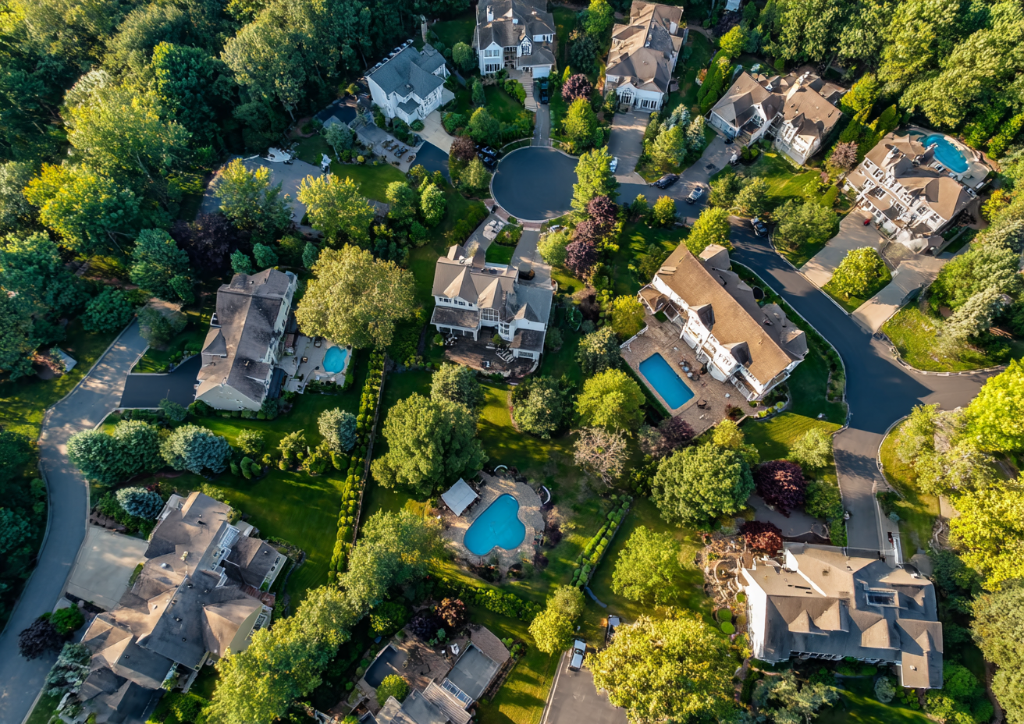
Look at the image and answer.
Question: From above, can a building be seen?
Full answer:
Yes, looking at the shot, I can spot a building.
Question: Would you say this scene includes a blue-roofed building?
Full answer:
Yes, the frame does contain a blue-roofed building.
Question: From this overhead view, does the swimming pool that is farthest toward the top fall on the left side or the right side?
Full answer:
The swimming pool that is farthest toward the top appears in the right half of the scene.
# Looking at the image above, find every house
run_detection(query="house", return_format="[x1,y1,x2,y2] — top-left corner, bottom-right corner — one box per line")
[608,0,686,110]
[705,66,851,164]
[364,642,499,724]
[636,239,810,395]
[739,542,946,692]
[365,38,448,127]
[431,239,552,356]
[840,138,968,253]
[71,491,293,724]
[476,0,557,78]
[196,263,298,405]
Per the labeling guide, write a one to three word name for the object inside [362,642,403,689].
swimming pool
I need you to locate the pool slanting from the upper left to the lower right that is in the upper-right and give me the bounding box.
[916,132,971,175]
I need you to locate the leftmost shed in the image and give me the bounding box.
[57,345,85,372]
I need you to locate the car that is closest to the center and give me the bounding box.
[518,268,540,283]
